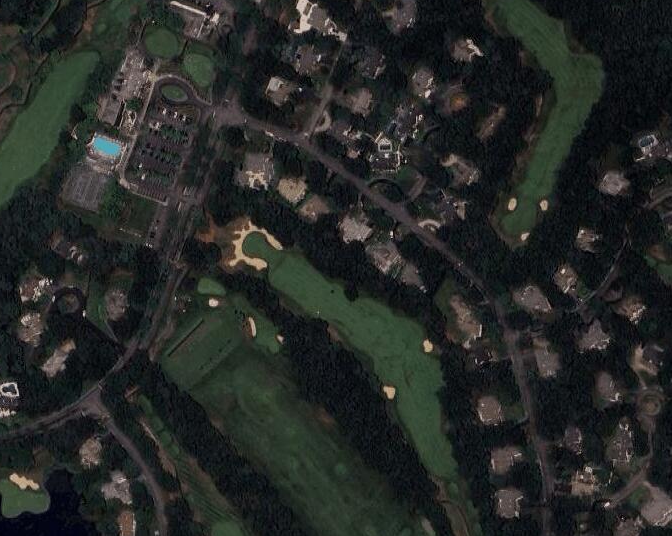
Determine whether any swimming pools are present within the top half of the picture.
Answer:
Yes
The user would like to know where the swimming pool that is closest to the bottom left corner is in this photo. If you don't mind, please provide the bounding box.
[0,383,20,397]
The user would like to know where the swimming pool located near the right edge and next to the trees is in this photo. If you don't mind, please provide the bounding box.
[640,134,656,147]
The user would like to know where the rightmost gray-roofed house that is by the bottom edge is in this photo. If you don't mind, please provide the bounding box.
[641,486,672,523]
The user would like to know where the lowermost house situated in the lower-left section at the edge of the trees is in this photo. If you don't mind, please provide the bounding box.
[118,513,136,536]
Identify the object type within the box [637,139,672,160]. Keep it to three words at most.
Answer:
house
